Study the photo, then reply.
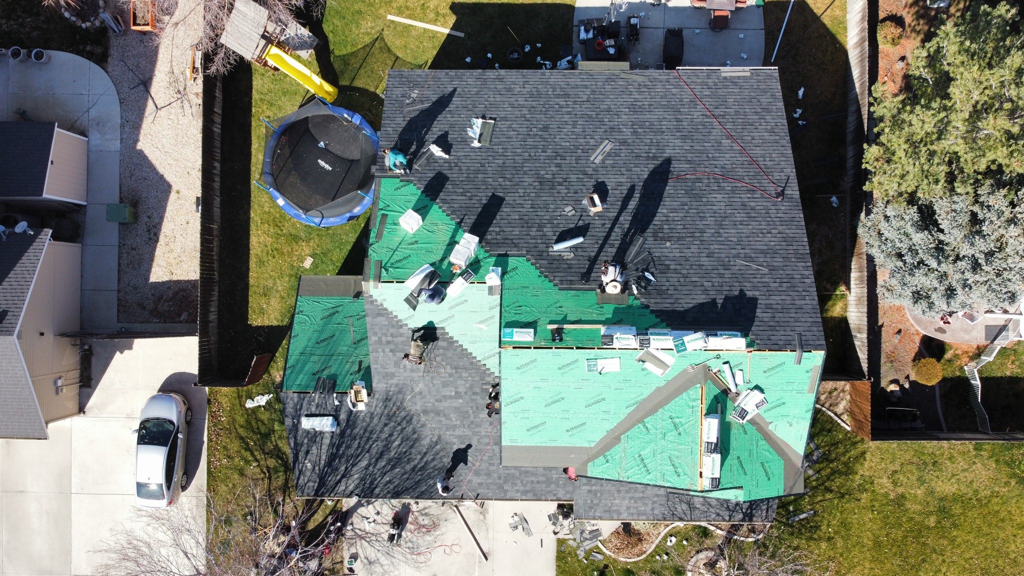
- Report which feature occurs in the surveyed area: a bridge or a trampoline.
trampoline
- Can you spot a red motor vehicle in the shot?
No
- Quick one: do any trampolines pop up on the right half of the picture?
No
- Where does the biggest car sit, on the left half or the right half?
left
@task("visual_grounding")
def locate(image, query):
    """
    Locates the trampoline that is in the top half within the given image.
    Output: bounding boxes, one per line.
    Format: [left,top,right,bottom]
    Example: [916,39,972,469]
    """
[247,94,376,228]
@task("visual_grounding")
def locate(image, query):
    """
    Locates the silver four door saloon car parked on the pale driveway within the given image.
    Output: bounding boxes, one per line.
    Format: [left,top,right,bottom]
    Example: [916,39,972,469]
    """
[129,392,190,508]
